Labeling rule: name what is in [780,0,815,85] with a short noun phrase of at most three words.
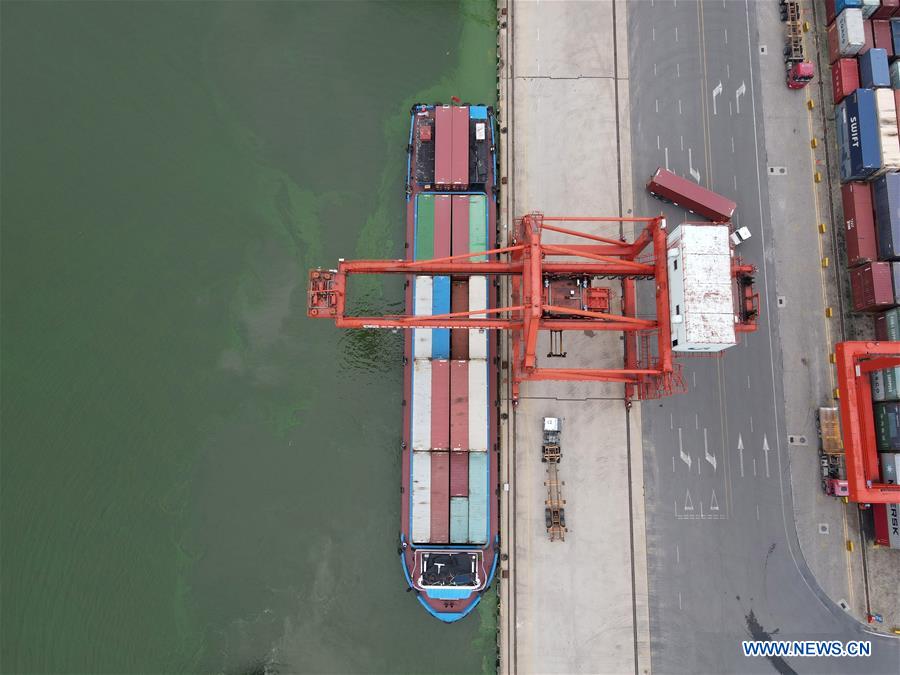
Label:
truck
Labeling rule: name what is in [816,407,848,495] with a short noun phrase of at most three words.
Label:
truck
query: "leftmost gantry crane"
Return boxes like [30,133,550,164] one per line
[308,206,766,407]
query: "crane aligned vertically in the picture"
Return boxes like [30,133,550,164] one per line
[834,341,900,511]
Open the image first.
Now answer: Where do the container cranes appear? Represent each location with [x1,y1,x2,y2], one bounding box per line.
[834,341,900,511]
[308,206,766,407]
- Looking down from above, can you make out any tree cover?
No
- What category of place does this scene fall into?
port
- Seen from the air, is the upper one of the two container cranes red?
Yes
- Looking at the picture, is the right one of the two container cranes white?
No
